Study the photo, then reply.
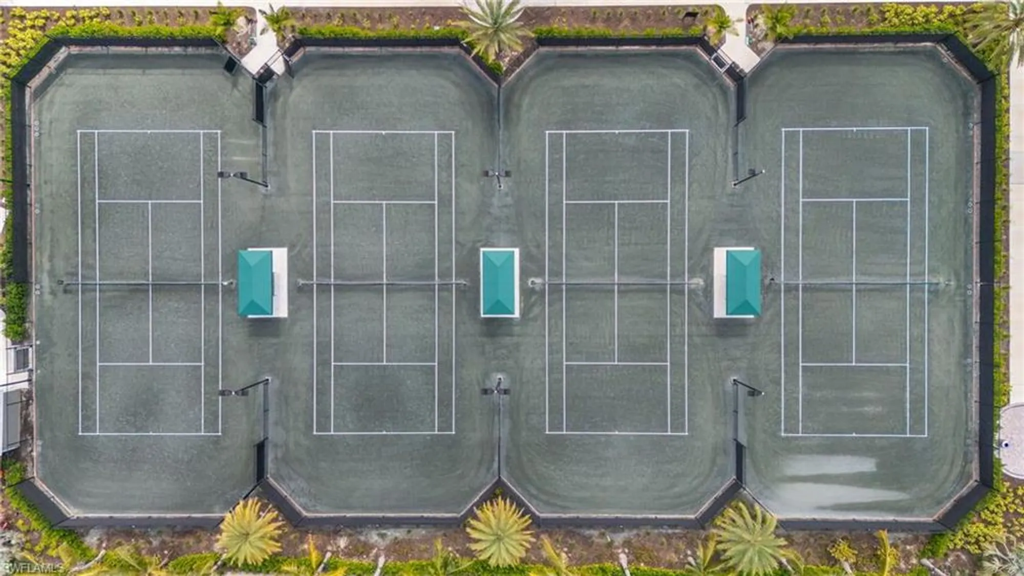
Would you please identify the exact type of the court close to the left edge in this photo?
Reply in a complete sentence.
Looking closely, the court close to the left edge is a tennis court.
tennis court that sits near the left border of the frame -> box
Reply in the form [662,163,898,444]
[24,40,269,519]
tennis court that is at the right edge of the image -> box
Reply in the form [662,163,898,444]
[734,38,981,525]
